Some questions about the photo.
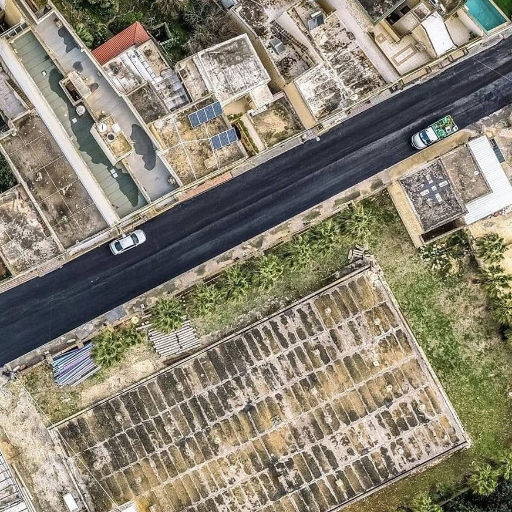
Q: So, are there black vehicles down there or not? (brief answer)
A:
No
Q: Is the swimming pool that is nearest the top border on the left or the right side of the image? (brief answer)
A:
right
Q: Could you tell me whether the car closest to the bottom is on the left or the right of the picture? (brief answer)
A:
left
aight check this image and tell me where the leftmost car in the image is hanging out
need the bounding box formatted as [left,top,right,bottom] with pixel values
[110,228,146,255]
